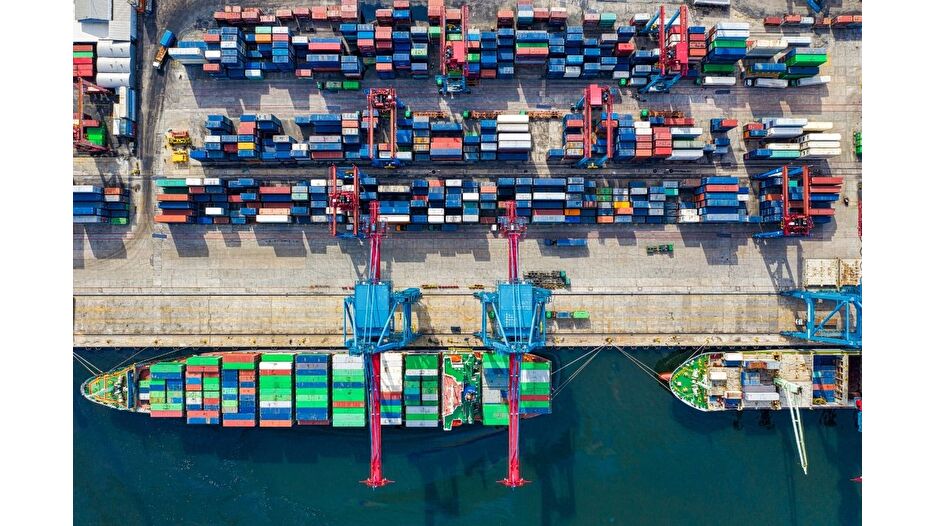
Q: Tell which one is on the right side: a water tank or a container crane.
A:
container crane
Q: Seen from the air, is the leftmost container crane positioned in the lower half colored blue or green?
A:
blue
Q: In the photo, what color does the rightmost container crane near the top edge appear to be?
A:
red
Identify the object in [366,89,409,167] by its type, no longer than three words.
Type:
container crane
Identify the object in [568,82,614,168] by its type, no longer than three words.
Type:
container crane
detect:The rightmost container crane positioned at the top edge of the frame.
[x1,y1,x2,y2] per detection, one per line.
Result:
[636,5,688,92]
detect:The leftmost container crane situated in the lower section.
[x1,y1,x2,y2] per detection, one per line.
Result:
[336,203,423,491]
